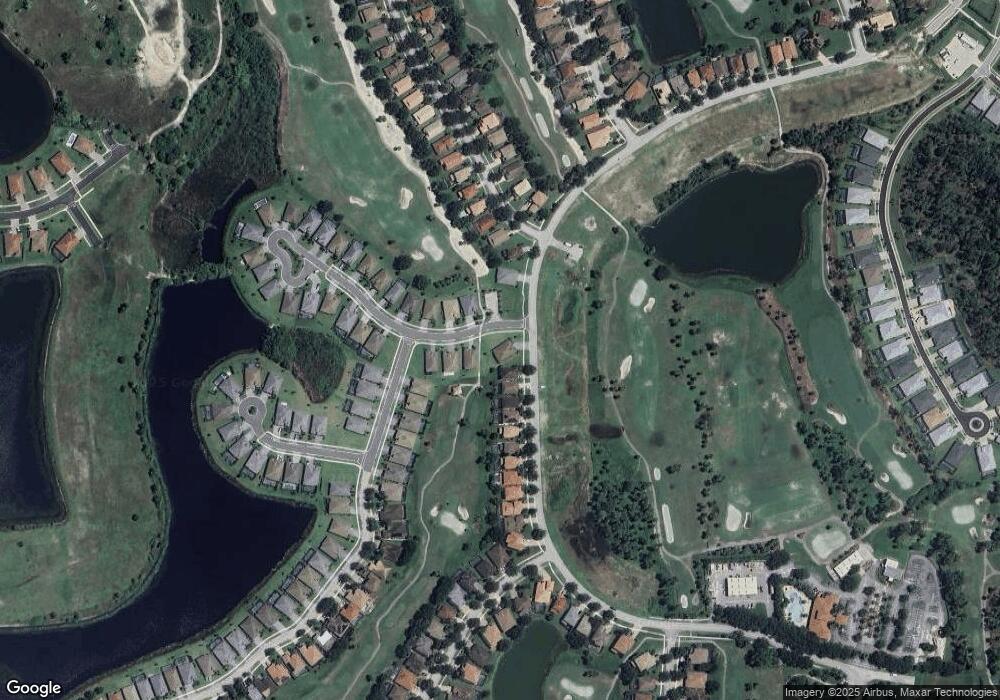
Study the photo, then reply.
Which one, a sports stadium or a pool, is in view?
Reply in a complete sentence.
Of the two, only a pool appears.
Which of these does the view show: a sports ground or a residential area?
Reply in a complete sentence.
This image shows a residential area.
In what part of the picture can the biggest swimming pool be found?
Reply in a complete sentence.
The biggest swimming pool sits in the bottom right section of the image.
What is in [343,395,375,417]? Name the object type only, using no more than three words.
house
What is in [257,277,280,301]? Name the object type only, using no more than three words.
house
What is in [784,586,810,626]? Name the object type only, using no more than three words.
swimming pool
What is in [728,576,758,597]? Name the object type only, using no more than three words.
building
